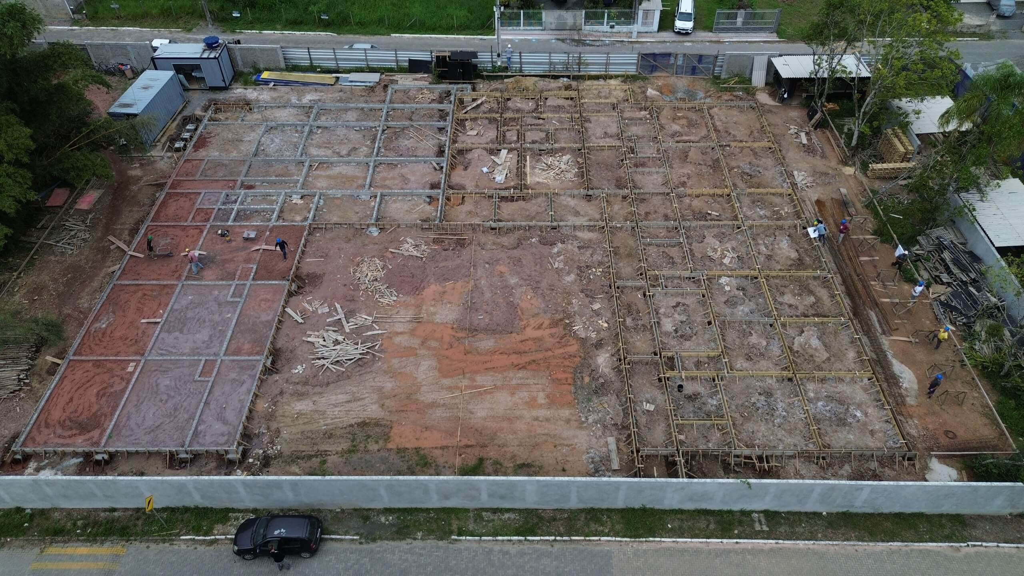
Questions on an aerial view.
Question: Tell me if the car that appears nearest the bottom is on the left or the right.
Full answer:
It is on the left.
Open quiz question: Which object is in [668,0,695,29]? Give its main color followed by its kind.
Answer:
white car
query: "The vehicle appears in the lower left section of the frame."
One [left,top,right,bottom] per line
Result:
[231,512,324,561]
